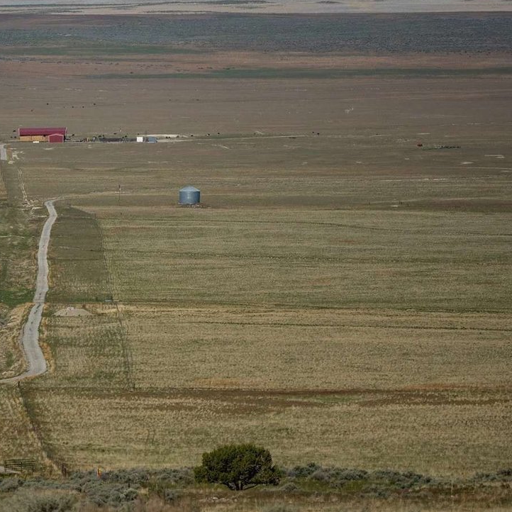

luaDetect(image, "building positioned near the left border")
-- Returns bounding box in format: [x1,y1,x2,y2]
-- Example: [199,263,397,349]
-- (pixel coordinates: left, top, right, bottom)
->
[18,126,66,142]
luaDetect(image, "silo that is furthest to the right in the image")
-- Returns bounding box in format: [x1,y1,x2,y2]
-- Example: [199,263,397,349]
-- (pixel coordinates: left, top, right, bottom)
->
[178,188,201,205]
